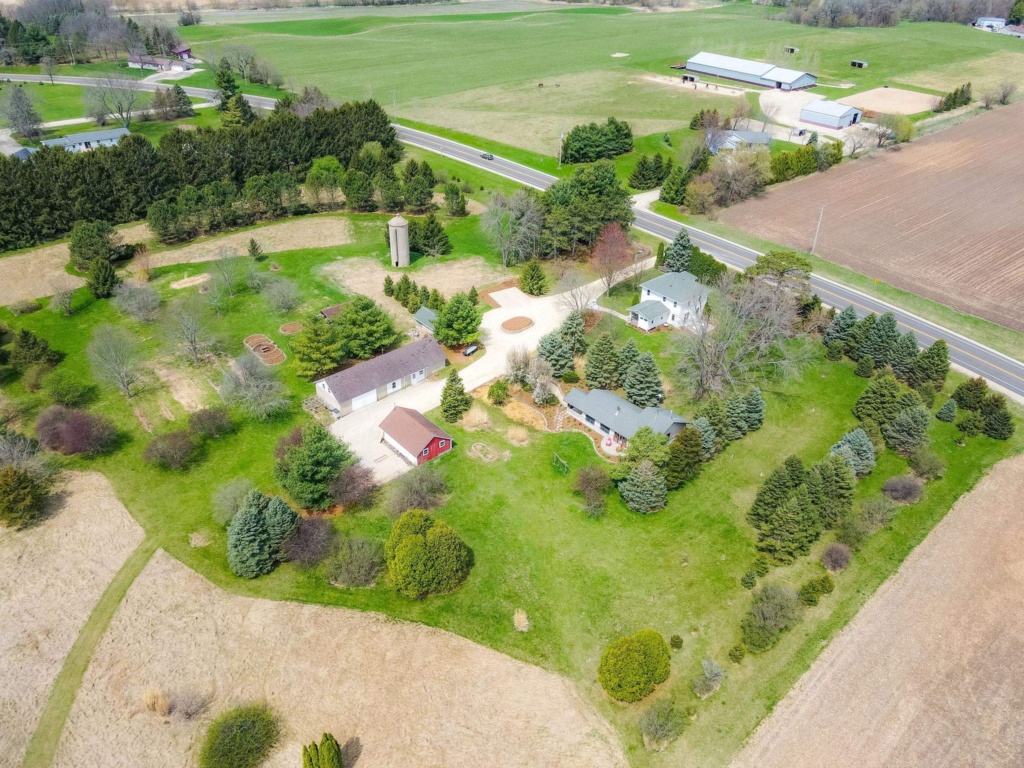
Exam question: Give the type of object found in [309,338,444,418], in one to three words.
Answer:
barn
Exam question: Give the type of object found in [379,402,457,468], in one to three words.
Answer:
building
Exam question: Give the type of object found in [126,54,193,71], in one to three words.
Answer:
house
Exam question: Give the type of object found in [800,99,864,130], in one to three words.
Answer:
shed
